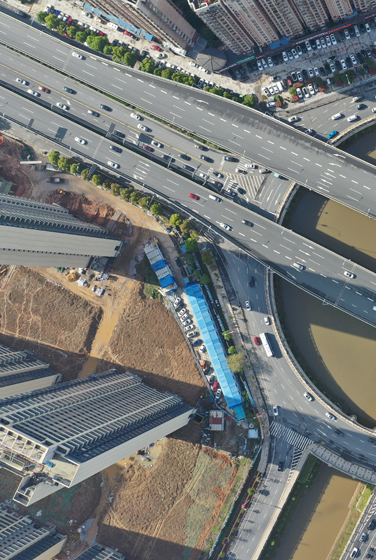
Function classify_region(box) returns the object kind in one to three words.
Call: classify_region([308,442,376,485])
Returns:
bridge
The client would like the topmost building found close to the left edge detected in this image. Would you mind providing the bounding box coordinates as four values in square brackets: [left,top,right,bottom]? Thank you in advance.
[0,188,120,268]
